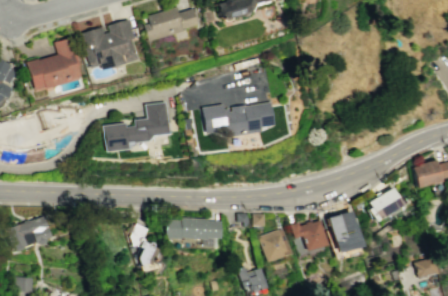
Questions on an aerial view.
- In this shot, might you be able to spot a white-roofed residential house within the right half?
Yes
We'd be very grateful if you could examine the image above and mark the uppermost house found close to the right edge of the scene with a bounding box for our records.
[414,160,448,188]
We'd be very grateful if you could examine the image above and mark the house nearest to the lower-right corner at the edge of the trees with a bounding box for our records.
[414,260,440,278]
